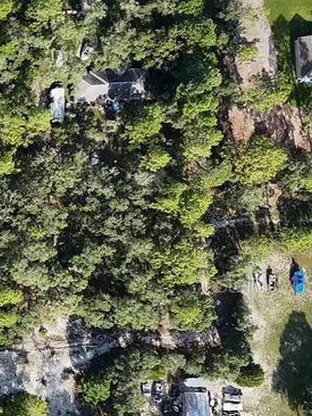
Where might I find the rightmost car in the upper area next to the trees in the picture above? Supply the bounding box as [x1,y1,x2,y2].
[78,42,93,61]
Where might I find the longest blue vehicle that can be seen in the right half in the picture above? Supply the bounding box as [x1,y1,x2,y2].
[292,269,304,293]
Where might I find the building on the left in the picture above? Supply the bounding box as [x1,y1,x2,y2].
[71,68,146,106]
